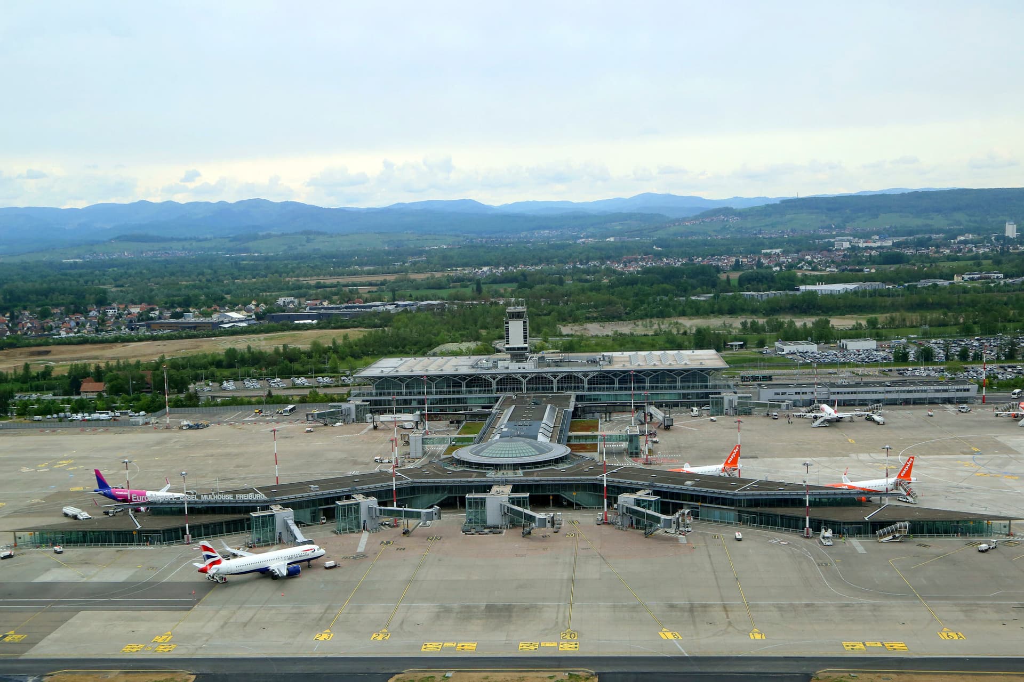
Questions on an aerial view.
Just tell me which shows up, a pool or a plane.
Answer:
plane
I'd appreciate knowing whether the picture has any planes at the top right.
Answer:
No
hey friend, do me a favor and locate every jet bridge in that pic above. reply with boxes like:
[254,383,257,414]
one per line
[367,411,419,427]
[733,398,795,417]
[512,503,560,531]
[305,407,345,423]
[618,500,690,534]
[370,504,442,533]
[646,403,671,427]
[286,512,321,549]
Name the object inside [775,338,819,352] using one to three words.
shed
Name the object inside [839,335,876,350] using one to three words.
shed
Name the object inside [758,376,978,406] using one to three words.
building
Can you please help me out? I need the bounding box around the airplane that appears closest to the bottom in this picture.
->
[195,540,324,581]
